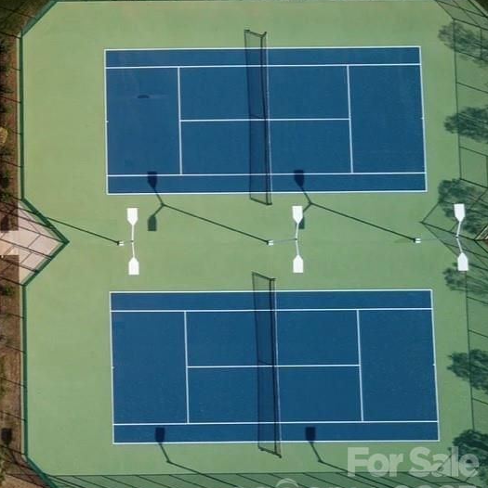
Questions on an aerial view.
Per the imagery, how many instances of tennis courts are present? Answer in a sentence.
Looking from above, you can make out 2 tennis courts.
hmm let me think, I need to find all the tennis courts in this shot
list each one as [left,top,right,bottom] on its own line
[111,291,438,443]
[105,46,427,194]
